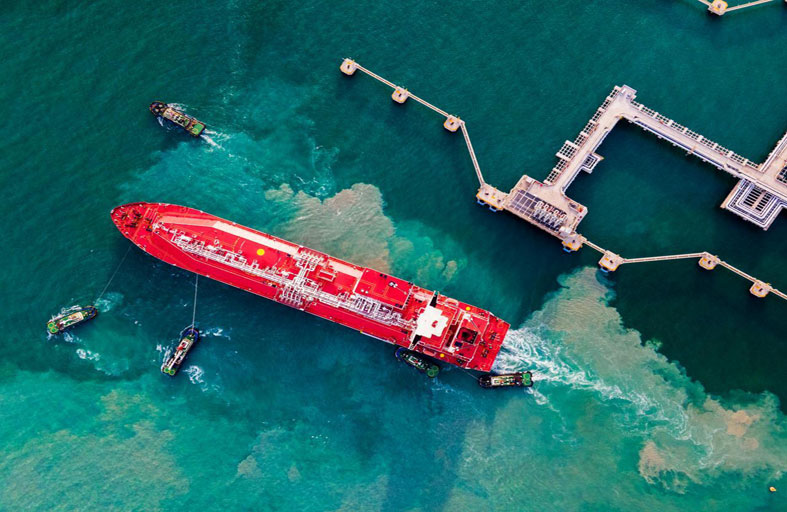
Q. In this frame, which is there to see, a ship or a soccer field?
ship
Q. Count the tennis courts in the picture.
zero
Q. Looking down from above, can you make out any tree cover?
No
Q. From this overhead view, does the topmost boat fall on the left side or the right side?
left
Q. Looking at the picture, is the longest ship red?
Yes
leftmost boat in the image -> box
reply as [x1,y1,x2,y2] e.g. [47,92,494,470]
[49,306,100,336]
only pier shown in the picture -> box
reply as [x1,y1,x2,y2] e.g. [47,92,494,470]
[546,84,787,205]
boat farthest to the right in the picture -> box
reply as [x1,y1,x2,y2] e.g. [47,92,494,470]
[477,370,533,388]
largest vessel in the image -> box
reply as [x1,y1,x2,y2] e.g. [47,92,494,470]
[108,201,509,372]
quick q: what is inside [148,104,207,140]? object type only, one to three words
boat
